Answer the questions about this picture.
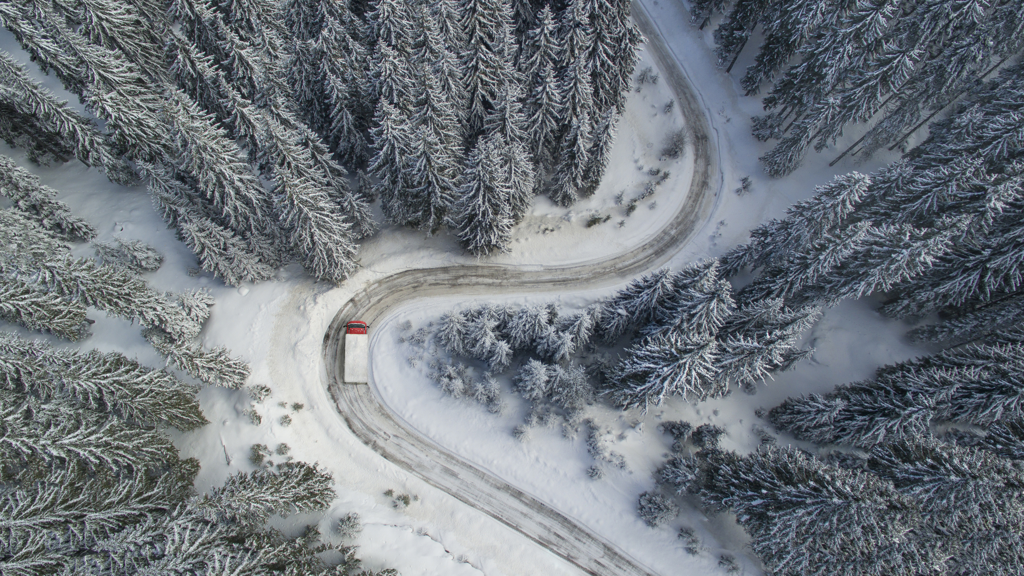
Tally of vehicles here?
1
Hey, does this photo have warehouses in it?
No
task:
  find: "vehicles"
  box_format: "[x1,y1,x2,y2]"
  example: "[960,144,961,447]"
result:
[346,321,373,388]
